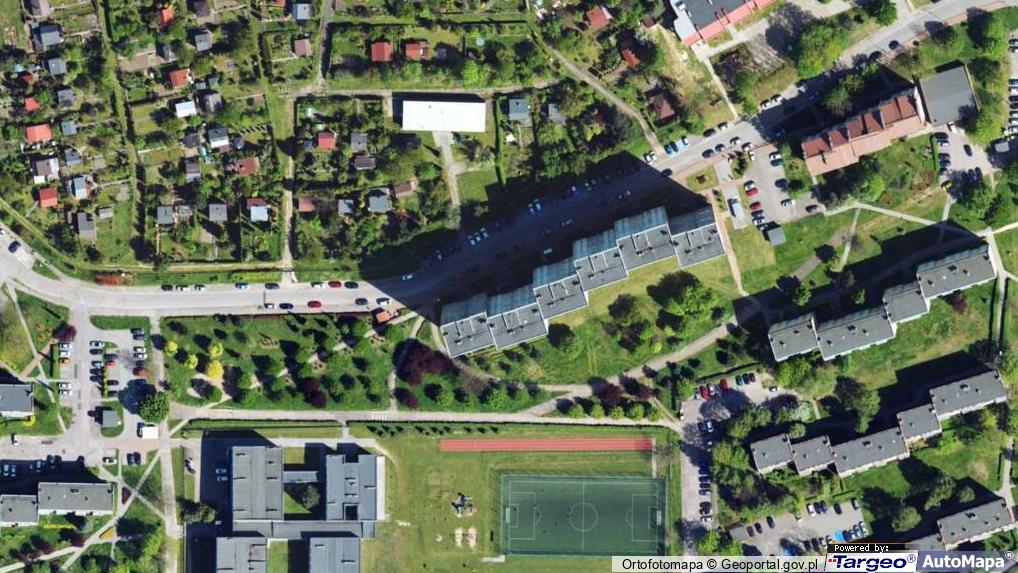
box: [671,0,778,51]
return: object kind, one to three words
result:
building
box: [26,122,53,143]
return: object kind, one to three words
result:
shed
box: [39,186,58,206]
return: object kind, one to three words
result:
shed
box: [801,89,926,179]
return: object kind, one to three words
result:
house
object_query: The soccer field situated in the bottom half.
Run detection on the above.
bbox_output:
[501,476,666,556]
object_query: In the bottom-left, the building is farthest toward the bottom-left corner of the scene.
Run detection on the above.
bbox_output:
[0,477,115,525]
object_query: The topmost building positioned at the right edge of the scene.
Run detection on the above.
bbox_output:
[919,62,979,125]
